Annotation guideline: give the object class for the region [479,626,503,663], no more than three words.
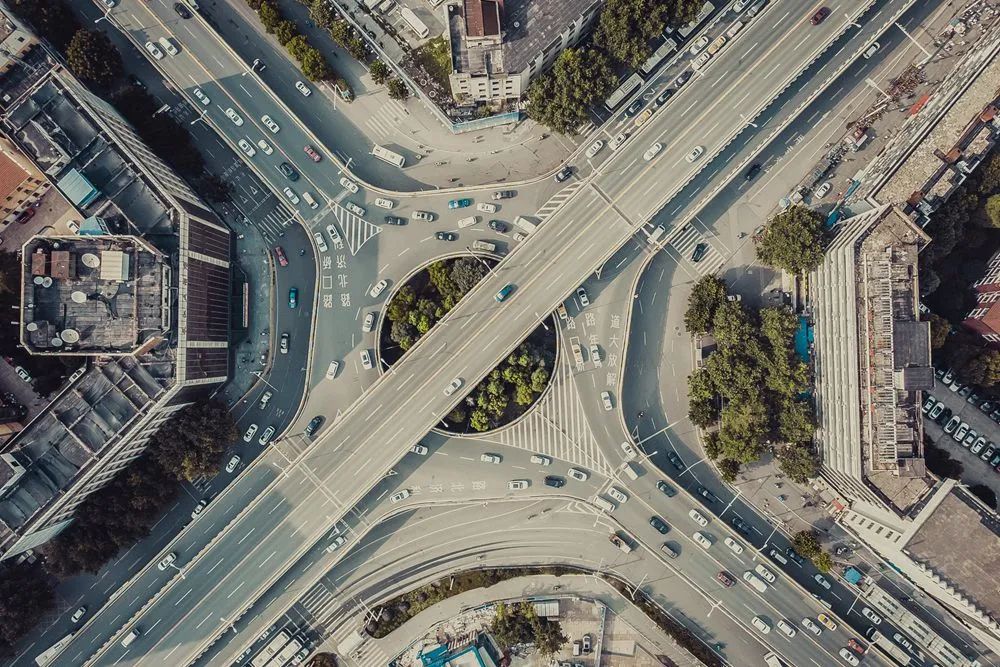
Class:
building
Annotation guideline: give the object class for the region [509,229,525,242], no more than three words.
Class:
vehicle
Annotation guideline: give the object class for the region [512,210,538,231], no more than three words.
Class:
vehicle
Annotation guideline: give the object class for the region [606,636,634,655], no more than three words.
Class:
building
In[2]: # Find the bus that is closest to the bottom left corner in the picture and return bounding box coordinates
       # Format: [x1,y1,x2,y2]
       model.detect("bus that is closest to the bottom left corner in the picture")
[34,628,77,667]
